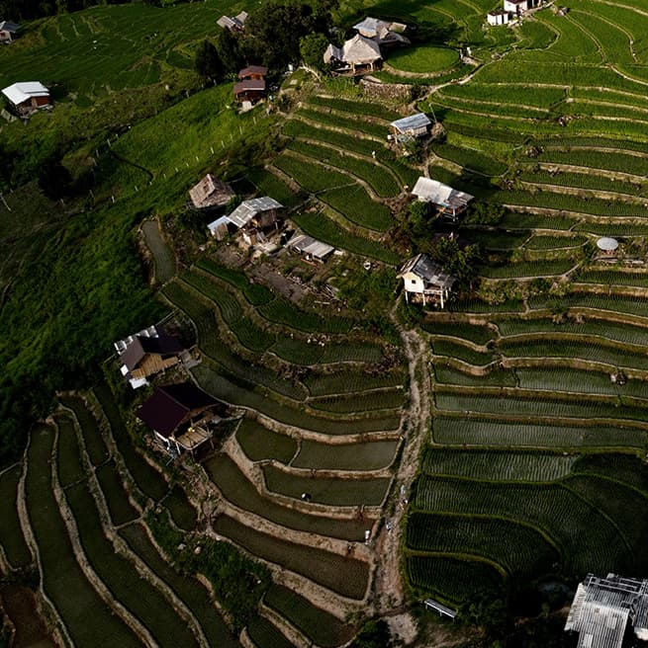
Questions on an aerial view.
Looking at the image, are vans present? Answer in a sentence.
No, no van can be seen from above.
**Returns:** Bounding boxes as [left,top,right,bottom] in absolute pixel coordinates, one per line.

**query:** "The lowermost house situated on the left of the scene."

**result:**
[136,380,218,456]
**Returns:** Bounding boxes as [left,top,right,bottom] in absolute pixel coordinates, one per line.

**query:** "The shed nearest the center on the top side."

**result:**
[290,235,335,268]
